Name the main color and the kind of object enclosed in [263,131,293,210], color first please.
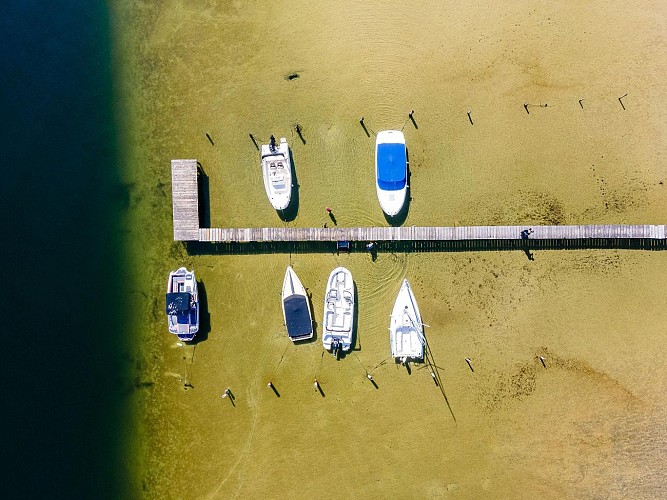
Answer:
white boat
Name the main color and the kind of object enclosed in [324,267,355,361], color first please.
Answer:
white boat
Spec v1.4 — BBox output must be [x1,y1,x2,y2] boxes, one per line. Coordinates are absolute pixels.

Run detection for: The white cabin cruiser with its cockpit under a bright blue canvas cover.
[376,131,406,218]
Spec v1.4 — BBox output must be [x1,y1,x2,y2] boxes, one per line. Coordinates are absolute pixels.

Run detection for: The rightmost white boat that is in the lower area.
[390,279,429,364]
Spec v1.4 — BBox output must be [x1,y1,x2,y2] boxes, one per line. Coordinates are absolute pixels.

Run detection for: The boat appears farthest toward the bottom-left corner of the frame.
[168,268,199,340]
